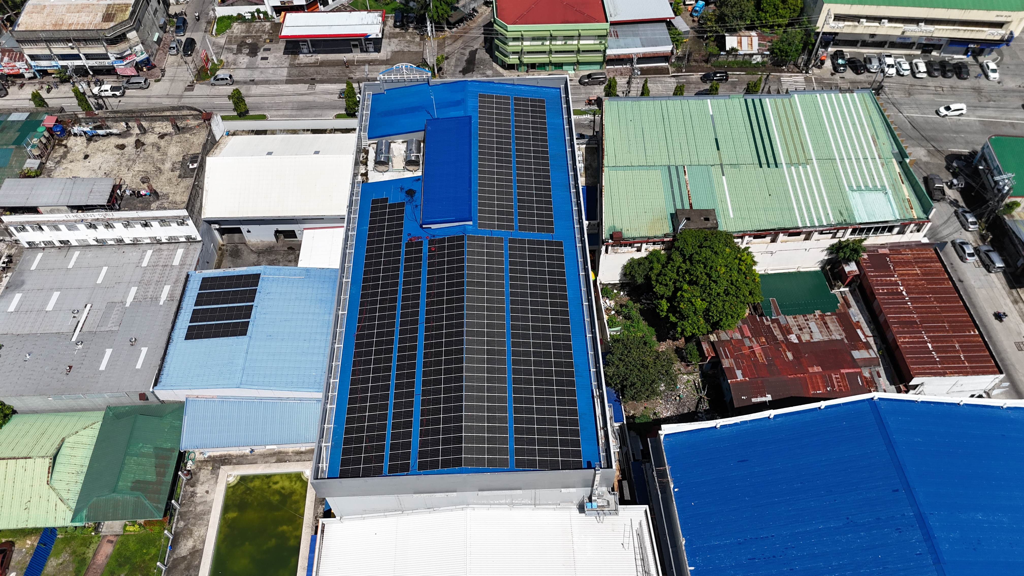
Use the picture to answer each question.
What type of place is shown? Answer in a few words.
industrial area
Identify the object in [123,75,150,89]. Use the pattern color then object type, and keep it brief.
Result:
gray car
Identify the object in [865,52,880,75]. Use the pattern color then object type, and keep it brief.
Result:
gray car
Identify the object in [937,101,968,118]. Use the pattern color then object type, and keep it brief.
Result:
white car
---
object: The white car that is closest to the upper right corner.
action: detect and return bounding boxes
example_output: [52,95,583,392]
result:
[981,62,999,80]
